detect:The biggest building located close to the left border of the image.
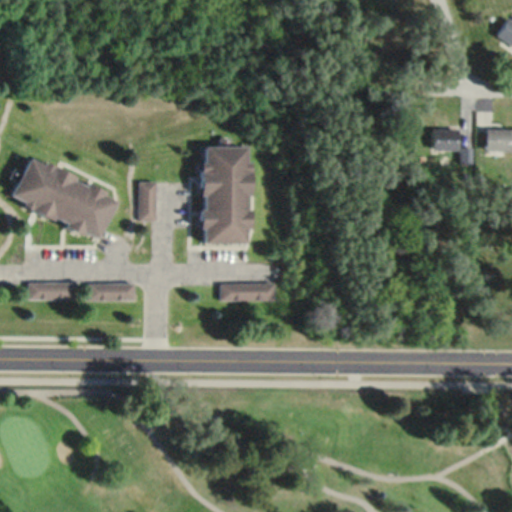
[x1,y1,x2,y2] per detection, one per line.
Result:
[12,159,118,236]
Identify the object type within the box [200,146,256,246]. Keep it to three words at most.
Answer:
building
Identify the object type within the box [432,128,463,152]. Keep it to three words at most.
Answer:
house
